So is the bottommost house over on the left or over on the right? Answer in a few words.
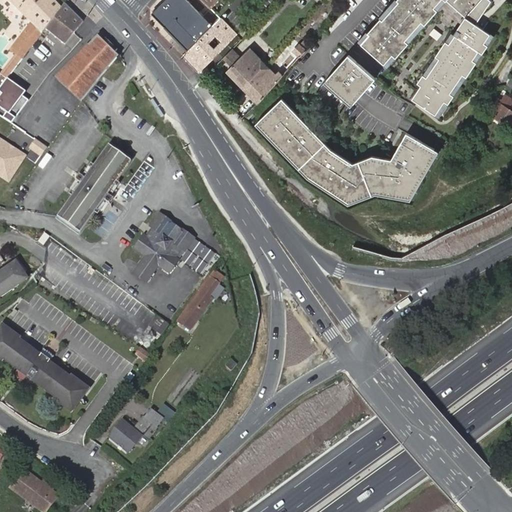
left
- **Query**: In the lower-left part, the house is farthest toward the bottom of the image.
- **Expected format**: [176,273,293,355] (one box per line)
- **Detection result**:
[9,472,56,512]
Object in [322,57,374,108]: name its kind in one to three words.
building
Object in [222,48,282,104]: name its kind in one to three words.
house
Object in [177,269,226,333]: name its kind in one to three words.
house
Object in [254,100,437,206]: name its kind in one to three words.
building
